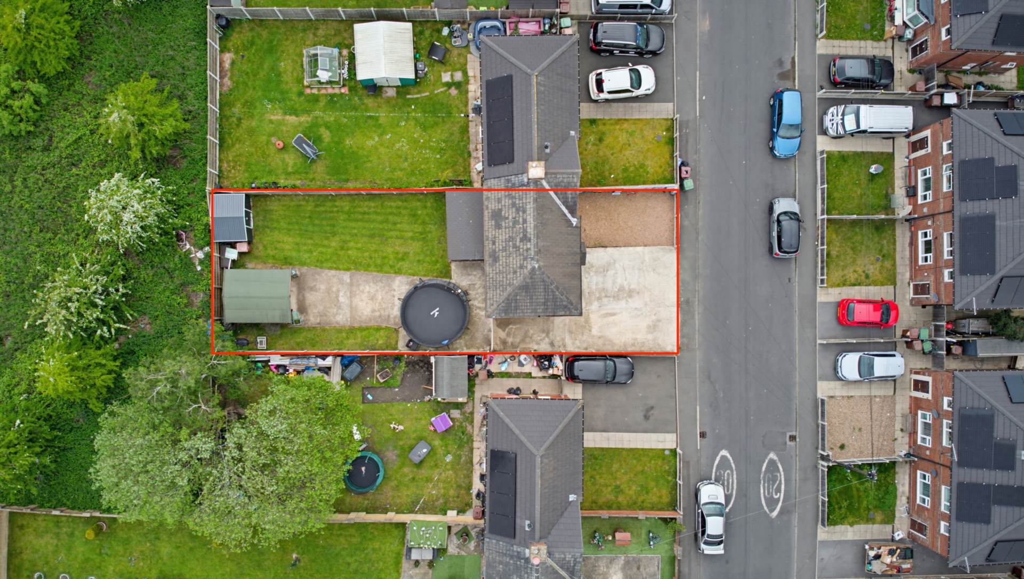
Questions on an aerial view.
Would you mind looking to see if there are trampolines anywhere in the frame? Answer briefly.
Yes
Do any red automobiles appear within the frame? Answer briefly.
Yes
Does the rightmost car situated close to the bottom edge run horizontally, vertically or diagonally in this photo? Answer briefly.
vertically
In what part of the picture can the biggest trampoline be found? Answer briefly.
center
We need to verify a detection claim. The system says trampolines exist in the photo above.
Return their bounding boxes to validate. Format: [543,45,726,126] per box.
[401,280,470,348]
[345,450,385,494]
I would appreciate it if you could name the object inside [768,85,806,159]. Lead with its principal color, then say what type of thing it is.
blue car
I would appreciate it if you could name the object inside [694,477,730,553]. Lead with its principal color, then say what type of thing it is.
white car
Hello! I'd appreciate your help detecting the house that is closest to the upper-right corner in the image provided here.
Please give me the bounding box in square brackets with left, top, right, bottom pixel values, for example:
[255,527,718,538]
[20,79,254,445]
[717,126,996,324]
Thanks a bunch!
[902,0,1024,75]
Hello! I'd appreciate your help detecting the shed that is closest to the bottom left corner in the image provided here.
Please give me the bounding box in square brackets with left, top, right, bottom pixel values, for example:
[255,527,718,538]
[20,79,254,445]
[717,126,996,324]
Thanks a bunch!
[222,268,299,323]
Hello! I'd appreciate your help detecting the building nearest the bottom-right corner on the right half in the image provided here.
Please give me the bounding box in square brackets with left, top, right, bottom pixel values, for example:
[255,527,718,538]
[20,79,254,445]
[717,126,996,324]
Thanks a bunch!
[899,367,1024,571]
